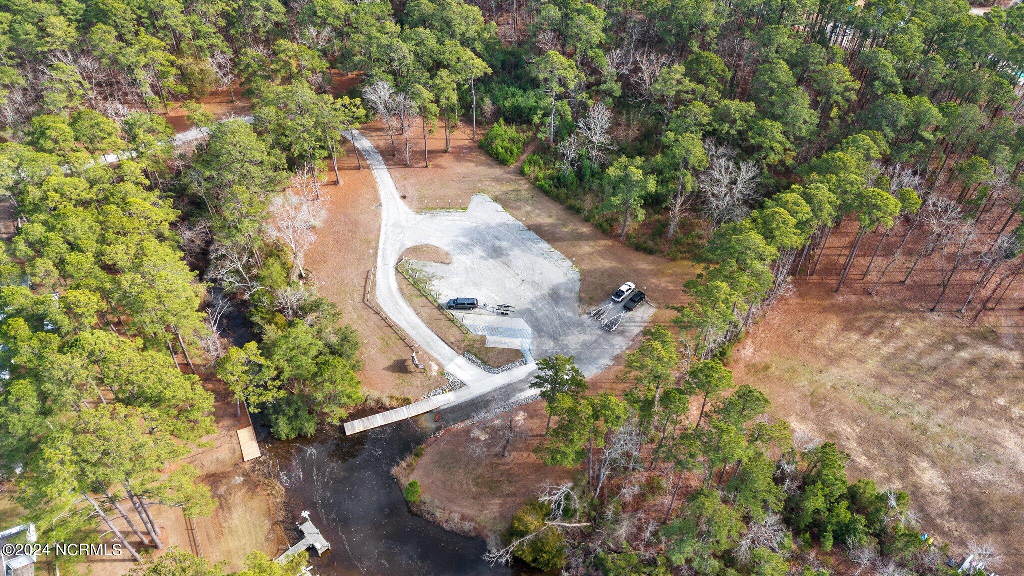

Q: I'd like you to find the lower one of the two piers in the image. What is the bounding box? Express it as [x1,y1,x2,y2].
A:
[263,519,331,573]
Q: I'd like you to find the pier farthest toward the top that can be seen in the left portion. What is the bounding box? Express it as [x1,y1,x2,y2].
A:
[345,397,440,437]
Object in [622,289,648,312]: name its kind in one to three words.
truck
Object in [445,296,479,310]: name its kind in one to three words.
vehicle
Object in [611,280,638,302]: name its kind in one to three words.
truck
